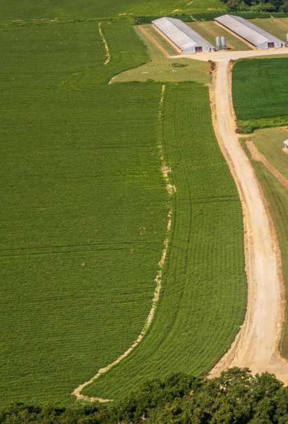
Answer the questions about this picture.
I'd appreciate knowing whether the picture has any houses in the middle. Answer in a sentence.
No, I can find no house in the middle.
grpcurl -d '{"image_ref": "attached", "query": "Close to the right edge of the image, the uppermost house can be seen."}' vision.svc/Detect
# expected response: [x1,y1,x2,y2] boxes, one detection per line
[217,13,284,48]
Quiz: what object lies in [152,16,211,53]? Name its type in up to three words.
house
